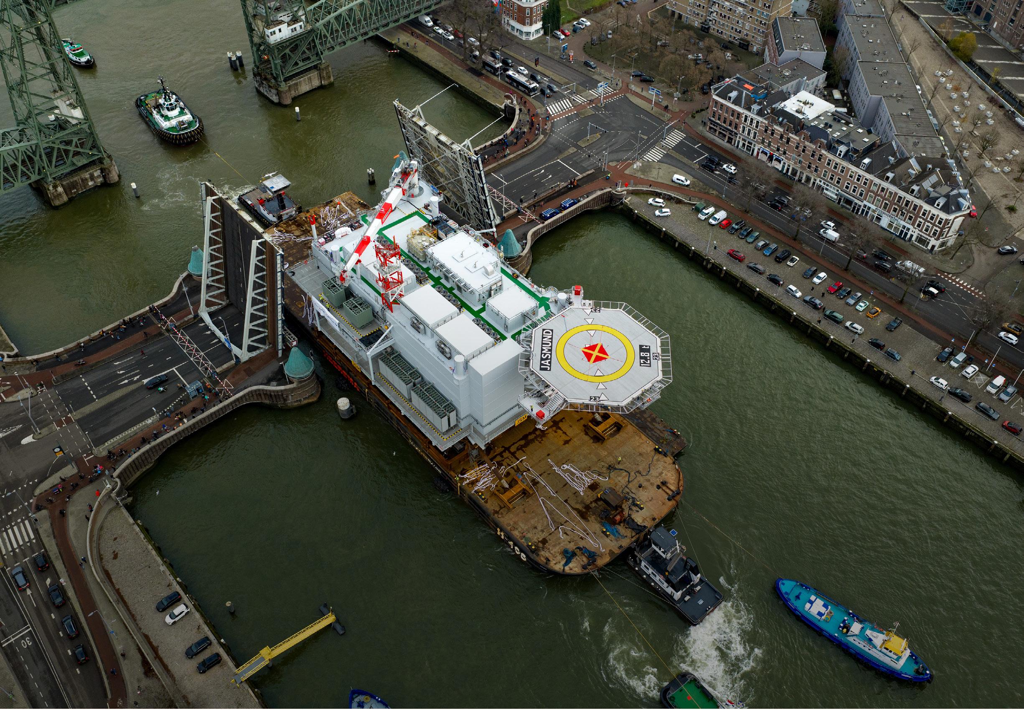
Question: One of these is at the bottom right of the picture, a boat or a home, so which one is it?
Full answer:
You can see a boat at the bottom right of the picture.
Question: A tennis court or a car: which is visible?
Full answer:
It is a car that can be seen here.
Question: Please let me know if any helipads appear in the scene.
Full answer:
Yes, there's a helipad down there.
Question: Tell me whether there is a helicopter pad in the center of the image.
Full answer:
Yes, a helicopter pad appears in the center of the image.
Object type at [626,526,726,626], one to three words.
boat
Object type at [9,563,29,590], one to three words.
car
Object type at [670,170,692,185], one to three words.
vehicle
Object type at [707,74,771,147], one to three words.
house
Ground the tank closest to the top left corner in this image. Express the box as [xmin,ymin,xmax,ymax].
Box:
[408,226,438,260]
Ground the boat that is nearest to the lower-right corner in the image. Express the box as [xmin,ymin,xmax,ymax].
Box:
[775,575,939,686]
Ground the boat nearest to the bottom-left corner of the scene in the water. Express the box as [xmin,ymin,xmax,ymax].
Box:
[349,688,391,710]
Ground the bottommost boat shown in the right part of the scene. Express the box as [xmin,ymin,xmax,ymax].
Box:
[657,668,738,710]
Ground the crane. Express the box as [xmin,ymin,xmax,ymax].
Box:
[334,151,423,280]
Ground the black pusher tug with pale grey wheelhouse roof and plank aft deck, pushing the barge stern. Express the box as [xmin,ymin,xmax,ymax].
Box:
[236,170,305,228]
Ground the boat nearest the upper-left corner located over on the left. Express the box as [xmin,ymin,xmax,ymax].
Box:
[58,30,96,68]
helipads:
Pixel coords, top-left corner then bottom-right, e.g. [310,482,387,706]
[496,282,672,427]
